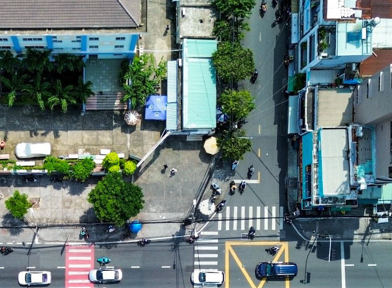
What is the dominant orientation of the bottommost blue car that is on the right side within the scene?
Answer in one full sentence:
In this picture, the bottommost blue car that is on the right side is oriented from left to right.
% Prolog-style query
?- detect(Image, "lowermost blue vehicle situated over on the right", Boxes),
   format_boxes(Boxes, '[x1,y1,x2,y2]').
[255,261,297,281]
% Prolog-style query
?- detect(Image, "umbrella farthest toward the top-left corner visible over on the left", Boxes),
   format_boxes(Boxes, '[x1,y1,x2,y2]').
[124,110,139,126]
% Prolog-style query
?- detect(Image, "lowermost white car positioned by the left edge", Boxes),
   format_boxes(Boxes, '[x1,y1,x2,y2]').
[19,269,51,287]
